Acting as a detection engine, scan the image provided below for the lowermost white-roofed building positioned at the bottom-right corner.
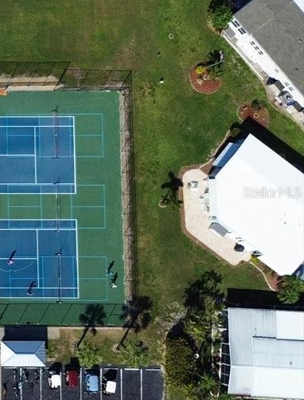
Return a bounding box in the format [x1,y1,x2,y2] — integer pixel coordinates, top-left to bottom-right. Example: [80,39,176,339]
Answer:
[211,308,304,399]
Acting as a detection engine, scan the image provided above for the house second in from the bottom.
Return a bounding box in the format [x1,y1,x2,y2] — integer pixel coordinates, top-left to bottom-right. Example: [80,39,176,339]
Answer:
[205,134,304,277]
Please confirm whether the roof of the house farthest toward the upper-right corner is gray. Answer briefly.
Yes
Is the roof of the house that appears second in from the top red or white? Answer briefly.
white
